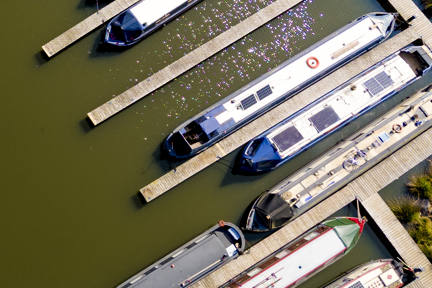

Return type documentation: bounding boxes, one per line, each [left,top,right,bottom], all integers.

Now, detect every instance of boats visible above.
[234,39,432,172]
[323,257,419,288]
[157,13,394,161]
[100,0,199,47]
[115,223,242,288]
[240,82,432,232]
[220,217,365,288]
